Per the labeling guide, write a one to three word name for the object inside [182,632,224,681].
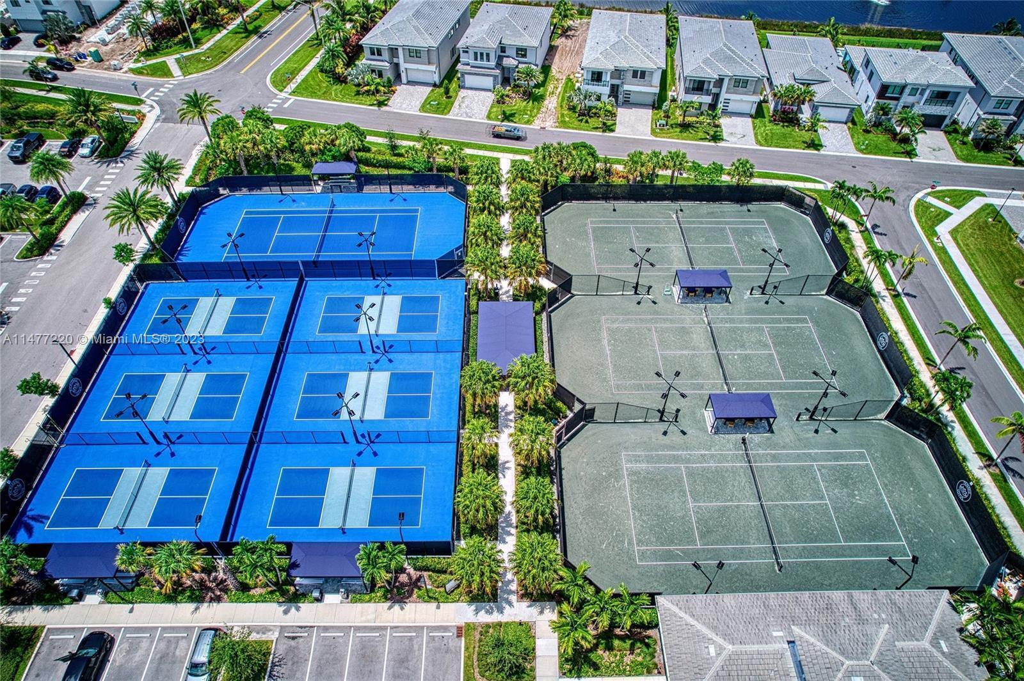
car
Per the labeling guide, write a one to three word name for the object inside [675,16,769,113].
house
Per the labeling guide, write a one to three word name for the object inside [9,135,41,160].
truck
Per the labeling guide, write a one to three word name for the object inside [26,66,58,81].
car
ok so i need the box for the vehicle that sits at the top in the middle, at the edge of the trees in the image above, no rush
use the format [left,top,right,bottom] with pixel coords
[491,126,529,144]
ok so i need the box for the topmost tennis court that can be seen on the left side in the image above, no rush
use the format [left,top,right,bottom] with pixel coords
[174,192,464,280]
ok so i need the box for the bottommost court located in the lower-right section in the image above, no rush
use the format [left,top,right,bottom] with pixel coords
[561,420,990,594]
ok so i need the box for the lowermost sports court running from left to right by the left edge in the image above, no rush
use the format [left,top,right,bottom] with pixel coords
[16,444,255,544]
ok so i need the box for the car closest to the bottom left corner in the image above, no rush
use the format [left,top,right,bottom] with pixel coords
[56,633,109,681]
